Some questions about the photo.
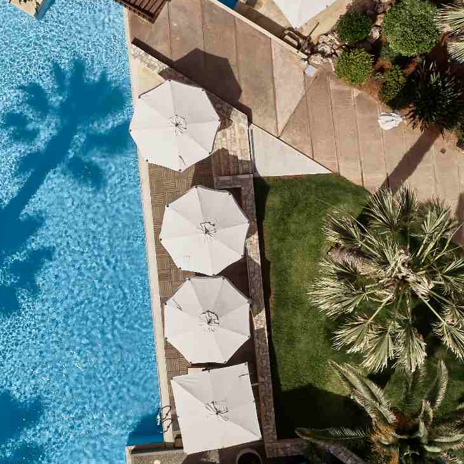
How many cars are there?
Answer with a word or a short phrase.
0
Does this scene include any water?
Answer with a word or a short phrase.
Yes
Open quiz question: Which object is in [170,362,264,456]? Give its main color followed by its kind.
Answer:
white umbrella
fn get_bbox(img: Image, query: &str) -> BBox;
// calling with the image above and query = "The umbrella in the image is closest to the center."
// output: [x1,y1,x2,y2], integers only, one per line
[159,187,250,276]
